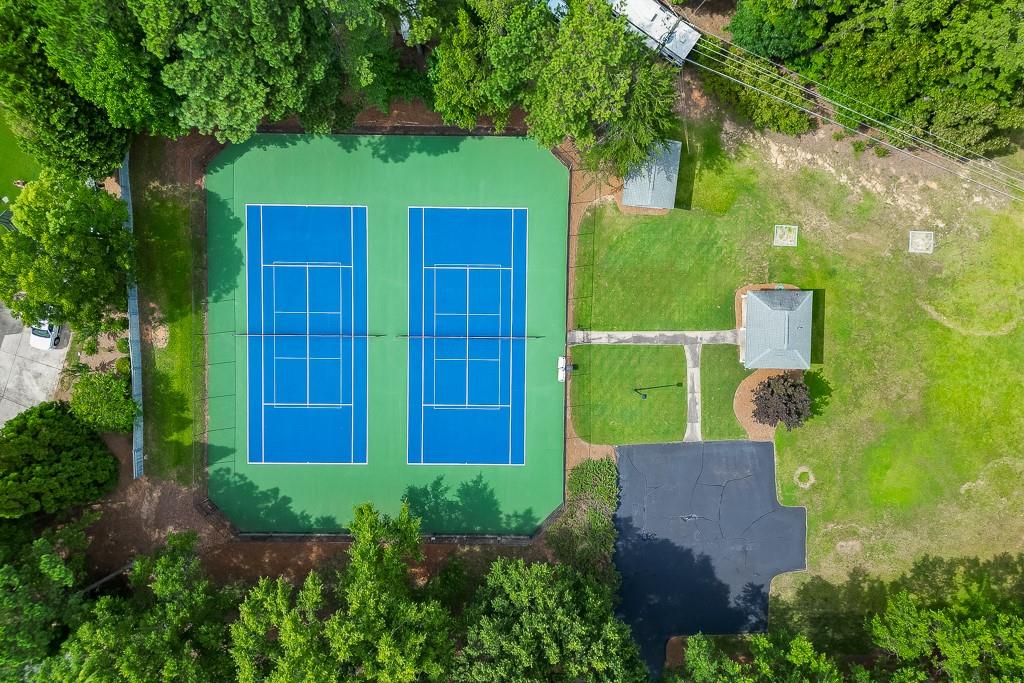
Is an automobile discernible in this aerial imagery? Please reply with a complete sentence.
Yes, this view includes an automobile.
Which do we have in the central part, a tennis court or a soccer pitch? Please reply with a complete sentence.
It is a tennis court that can be seen in the central part.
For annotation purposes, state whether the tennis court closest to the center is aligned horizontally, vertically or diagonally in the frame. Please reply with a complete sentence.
What the image shows is the tennis court closest to the center lying vertically.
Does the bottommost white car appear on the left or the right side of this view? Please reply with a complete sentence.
The bottommost white car sits on the left side.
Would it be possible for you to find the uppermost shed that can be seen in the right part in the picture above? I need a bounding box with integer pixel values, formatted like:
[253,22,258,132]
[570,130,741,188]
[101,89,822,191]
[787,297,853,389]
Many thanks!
[622,138,681,209]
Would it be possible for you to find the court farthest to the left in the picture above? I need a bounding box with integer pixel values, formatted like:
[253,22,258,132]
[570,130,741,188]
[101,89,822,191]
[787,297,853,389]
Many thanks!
[246,204,367,464]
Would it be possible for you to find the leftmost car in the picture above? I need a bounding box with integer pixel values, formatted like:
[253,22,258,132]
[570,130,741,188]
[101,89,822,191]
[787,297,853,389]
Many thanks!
[26,320,55,355]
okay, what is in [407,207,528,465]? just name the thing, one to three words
tennis court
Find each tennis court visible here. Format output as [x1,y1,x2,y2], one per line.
[246,204,367,464]
[407,207,528,465]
